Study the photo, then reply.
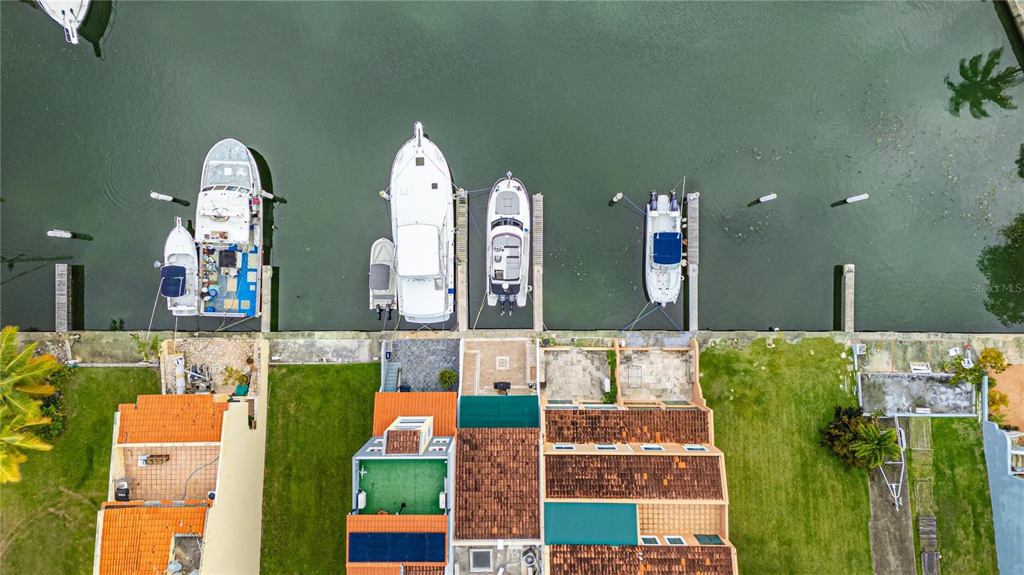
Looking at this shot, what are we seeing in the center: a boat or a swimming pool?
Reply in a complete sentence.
It is a boat that can be seen in the center.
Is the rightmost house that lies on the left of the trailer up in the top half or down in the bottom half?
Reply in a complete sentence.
The bottom half of the photo is where the rightmost house that lies on the left of the trailer is.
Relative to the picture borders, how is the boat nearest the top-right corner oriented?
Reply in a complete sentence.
What the image shows is the boat nearest the top-right corner lying from top to bottom.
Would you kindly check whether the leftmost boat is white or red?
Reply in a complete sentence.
The leftmost boat is white.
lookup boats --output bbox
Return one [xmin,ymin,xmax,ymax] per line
[33,0,100,45]
[645,177,684,306]
[486,171,530,317]
[390,121,455,331]
[194,138,267,316]
[153,216,199,315]
[368,238,396,322]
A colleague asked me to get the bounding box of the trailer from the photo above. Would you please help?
[875,416,906,513]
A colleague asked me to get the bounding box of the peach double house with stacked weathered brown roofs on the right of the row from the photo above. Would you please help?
[540,349,738,575]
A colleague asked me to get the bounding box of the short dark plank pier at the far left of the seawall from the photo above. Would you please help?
[55,264,81,331]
